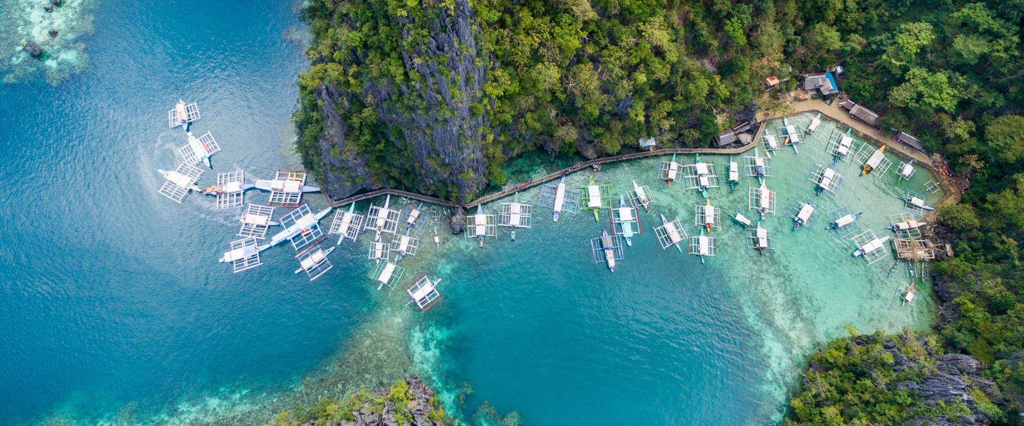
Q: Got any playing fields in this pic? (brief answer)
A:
No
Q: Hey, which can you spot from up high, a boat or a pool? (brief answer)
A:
boat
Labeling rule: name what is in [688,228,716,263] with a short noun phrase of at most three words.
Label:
boat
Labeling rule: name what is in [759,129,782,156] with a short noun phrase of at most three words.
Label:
boat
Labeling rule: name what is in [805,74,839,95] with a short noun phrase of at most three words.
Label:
house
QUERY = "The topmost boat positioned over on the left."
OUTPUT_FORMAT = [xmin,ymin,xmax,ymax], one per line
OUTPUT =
[168,98,201,130]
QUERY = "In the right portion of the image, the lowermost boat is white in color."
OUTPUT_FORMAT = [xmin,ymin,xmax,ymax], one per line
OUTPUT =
[896,282,920,307]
